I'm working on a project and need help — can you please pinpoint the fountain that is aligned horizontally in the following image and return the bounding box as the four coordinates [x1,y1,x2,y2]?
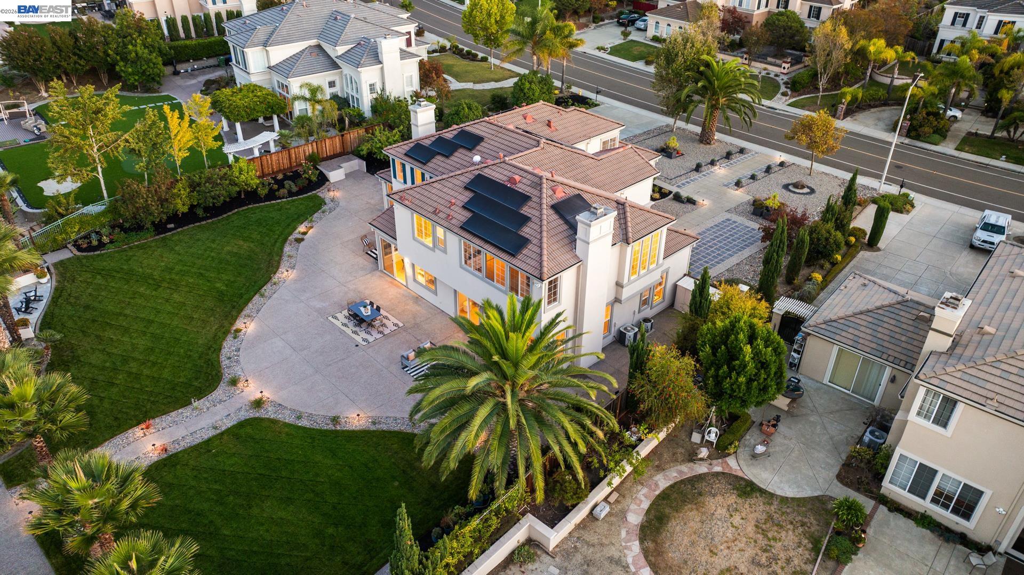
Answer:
[780,179,818,195]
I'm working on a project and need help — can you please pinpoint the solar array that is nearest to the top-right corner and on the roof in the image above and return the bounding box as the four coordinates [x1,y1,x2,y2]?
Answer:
[552,193,592,225]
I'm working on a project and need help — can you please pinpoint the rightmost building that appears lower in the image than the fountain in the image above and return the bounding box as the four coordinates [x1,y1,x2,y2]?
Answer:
[800,236,1024,567]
